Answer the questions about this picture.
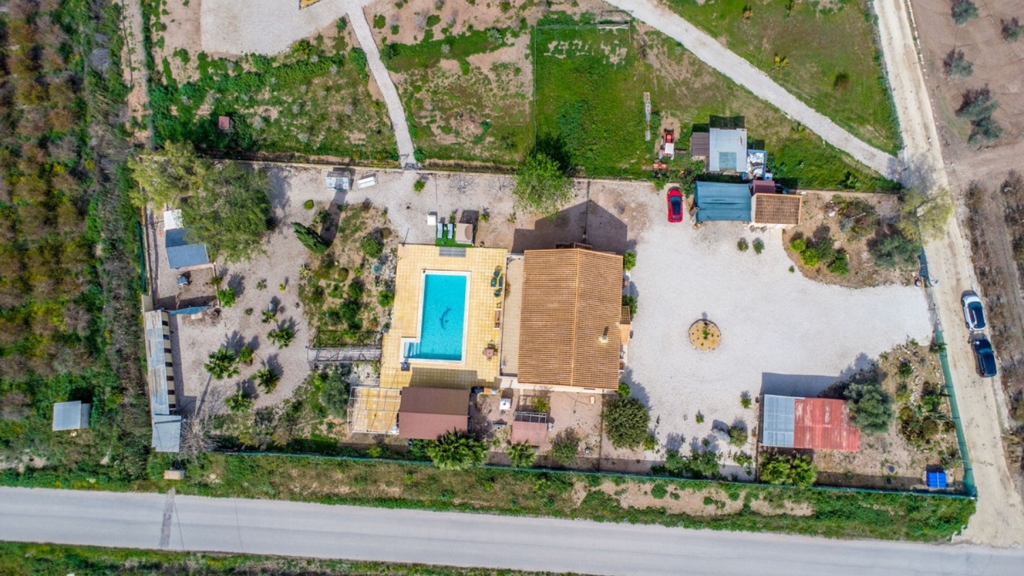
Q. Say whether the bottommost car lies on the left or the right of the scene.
right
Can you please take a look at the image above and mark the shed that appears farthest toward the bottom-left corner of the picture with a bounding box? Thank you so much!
[53,401,92,431]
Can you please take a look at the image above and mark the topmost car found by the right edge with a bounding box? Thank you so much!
[959,293,989,331]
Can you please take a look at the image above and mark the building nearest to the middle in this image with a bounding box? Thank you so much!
[500,244,631,394]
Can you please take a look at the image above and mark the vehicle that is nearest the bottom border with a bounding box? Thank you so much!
[969,338,1000,378]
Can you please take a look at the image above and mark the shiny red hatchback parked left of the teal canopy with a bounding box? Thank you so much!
[666,188,684,223]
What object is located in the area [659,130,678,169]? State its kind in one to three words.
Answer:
work vehicle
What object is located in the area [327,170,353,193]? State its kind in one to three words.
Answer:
shed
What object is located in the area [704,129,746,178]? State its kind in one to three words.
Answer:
building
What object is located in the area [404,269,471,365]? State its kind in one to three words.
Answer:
swimming pool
